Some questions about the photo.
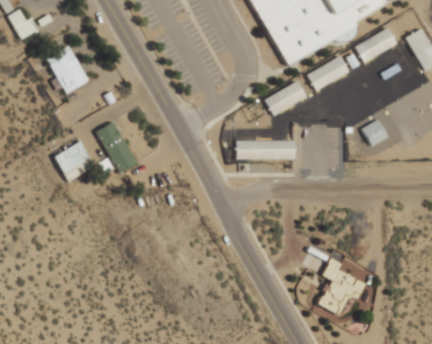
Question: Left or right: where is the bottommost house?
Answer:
right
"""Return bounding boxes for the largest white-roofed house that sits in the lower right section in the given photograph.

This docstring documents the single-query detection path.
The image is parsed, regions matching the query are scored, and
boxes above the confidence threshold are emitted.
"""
[316,259,366,316]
